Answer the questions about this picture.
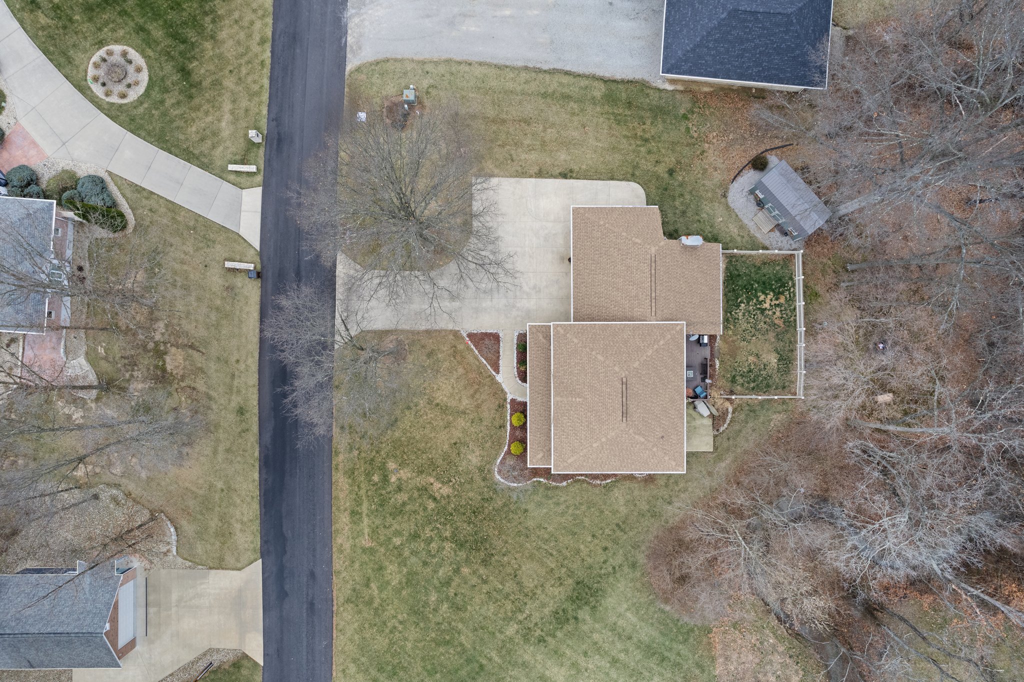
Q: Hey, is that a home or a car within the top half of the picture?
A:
home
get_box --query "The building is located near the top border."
[659,0,834,97]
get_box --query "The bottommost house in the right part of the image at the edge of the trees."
[527,205,722,474]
